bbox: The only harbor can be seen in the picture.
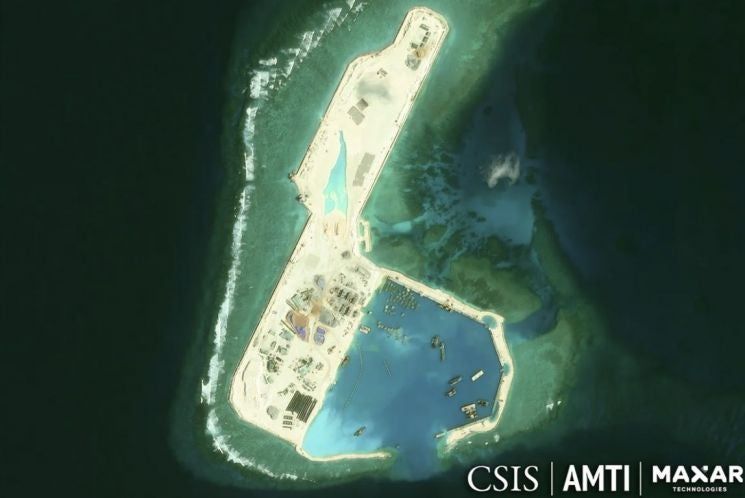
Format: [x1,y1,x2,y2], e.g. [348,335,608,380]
[296,270,514,462]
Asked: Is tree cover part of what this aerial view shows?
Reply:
No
